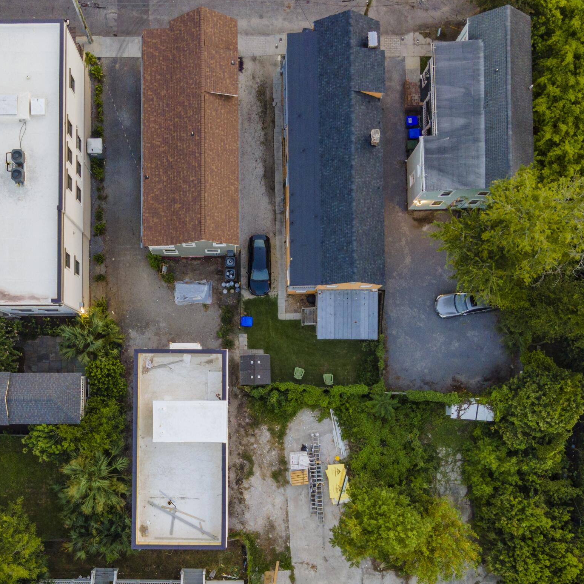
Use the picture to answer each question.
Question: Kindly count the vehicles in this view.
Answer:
2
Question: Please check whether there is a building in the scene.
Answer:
Yes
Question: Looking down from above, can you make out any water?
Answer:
No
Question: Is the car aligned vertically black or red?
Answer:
black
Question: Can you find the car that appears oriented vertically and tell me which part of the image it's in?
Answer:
center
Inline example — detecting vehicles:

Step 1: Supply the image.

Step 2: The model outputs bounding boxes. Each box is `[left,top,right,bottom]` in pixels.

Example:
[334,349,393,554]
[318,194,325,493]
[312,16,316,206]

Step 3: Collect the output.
[434,288,501,320]
[246,233,274,296]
